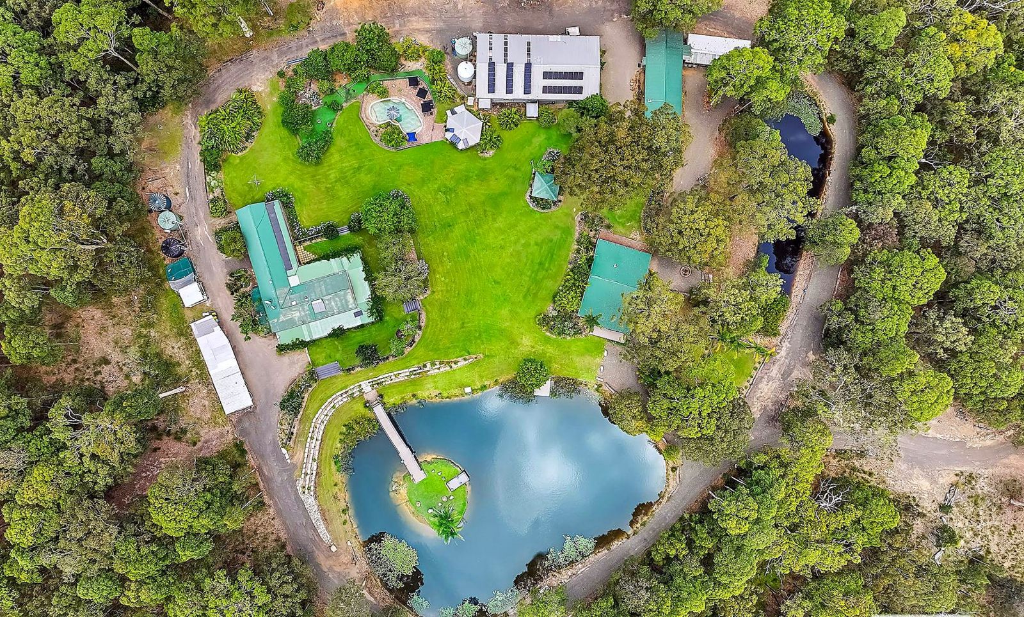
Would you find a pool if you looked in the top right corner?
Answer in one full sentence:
No, there is no pool in the top right corner.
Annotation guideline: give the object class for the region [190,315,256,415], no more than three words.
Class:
shed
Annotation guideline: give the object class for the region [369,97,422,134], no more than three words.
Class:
swimming pool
